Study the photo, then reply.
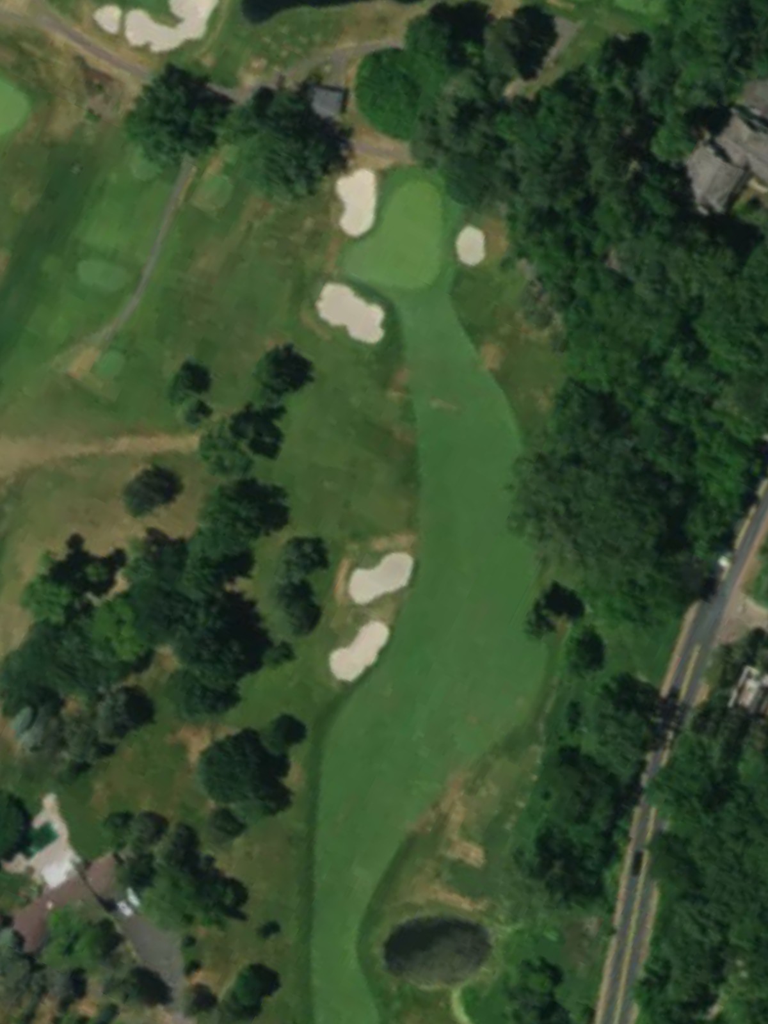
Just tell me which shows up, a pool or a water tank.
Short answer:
pool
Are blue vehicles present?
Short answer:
No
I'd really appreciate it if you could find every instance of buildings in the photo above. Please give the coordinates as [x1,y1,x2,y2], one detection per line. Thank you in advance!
[11,855,128,955]
[684,72,768,208]
[311,85,345,117]
[727,666,768,716]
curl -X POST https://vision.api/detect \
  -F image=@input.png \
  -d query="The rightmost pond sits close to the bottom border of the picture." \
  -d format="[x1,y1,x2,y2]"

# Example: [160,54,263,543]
[388,919,491,980]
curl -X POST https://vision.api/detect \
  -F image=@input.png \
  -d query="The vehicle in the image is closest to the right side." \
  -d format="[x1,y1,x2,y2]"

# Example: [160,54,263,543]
[714,554,729,575]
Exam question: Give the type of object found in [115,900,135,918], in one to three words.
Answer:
car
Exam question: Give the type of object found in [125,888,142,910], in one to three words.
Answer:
car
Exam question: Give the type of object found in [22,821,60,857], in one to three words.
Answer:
swimming pool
